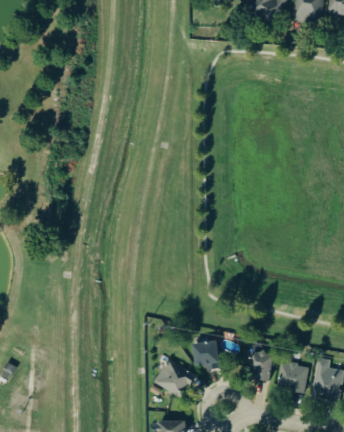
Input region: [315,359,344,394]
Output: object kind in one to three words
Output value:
house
